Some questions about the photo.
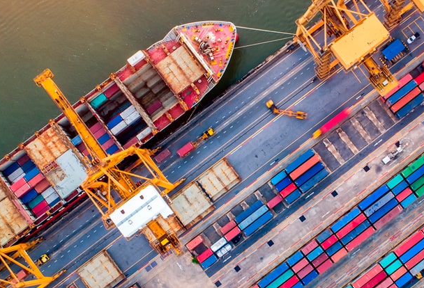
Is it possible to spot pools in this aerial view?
No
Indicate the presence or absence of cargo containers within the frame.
Yes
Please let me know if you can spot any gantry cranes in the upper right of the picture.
Yes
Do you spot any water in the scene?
Yes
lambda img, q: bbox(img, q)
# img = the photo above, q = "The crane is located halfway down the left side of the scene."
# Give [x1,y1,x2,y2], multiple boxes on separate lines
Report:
[30,73,189,266]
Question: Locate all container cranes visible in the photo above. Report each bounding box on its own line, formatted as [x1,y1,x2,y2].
[0,240,73,288]
[30,73,189,266]
[378,0,424,29]
[291,0,403,95]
